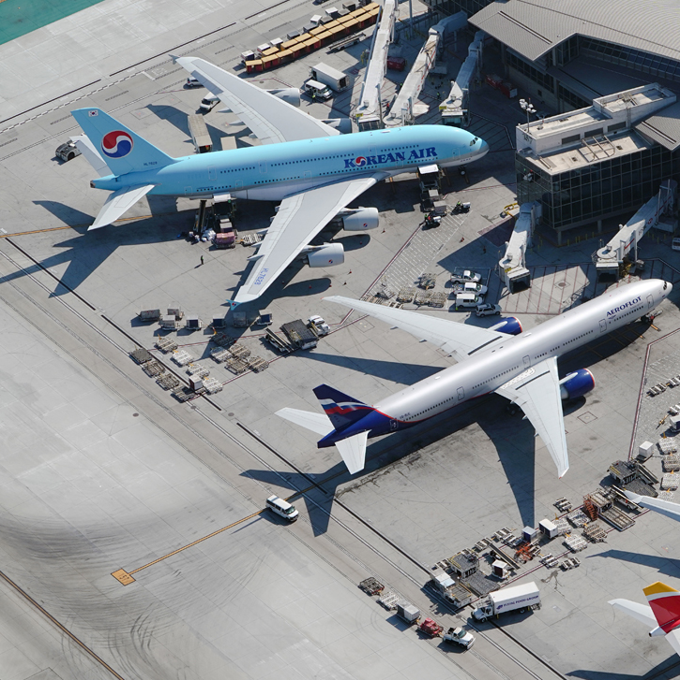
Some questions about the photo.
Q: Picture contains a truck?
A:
Yes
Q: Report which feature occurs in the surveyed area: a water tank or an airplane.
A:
airplane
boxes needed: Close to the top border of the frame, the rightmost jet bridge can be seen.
[441,32,492,123]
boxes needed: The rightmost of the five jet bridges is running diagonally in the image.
[592,181,679,279]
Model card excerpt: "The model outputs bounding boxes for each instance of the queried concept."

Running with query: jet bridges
[355,0,410,129]
[592,181,679,279]
[441,32,492,123]
[382,11,472,129]
[497,200,543,287]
